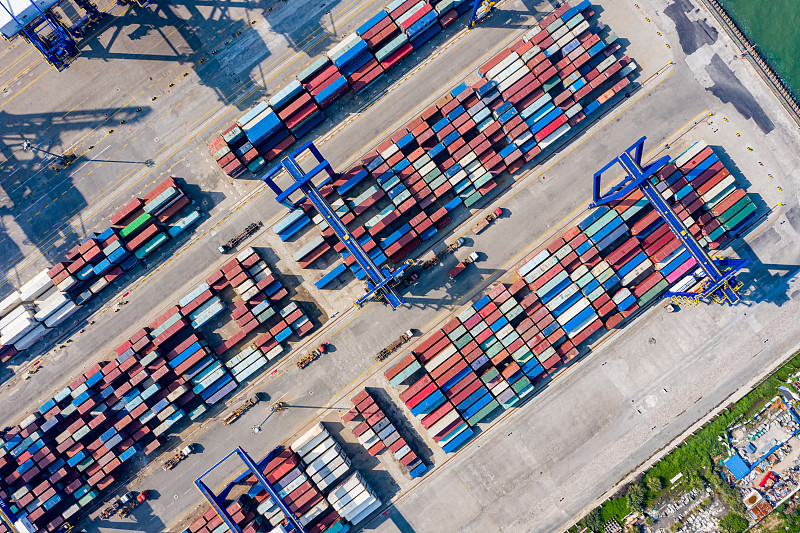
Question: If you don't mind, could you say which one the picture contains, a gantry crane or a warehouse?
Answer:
gantry crane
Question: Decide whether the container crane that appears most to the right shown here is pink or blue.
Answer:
blue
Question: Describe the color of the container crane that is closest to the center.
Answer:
blue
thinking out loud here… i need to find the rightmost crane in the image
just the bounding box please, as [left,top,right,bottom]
[593,138,748,310]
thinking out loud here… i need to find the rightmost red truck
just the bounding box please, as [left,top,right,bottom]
[756,470,780,492]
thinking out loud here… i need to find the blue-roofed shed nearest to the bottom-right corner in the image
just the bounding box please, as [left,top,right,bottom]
[723,453,752,481]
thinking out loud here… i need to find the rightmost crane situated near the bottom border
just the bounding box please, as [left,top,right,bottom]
[190,445,309,533]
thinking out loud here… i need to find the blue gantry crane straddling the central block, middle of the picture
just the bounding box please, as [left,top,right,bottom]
[262,138,410,310]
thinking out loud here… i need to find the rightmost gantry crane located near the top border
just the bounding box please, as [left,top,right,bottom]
[466,0,506,30]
